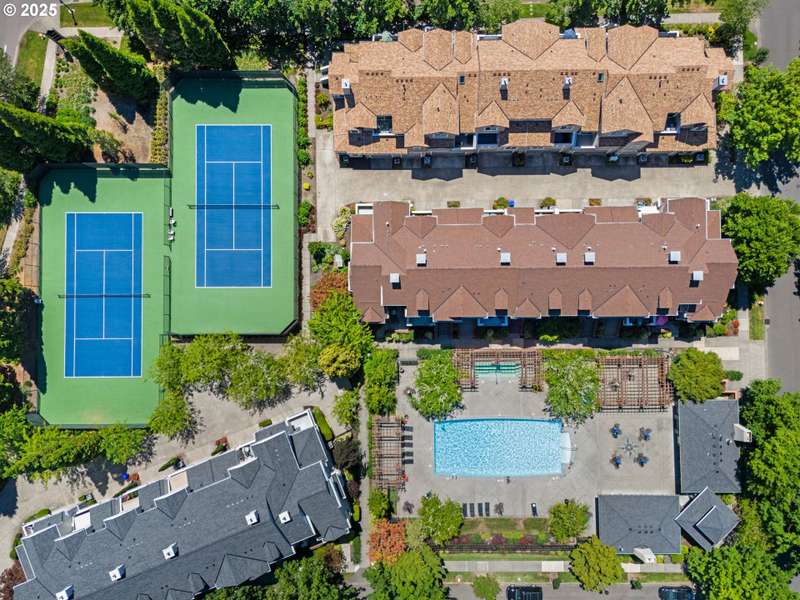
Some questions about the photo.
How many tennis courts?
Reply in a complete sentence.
The number of tennis courts here is 2.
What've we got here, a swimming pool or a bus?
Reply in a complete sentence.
Visible in the photo is a swimming pool.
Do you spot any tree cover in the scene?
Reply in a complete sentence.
Yes, the picture does contain tree cover.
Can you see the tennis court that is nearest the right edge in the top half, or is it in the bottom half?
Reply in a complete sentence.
It is in the top half that the tennis court that is nearest the right edge appears.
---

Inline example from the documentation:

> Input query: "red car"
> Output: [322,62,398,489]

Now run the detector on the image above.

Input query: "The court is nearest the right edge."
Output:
[171,80,293,334]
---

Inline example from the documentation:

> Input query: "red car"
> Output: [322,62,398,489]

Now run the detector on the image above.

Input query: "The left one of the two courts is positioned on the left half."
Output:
[40,170,171,424]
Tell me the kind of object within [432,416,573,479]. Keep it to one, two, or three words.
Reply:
swimming pool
